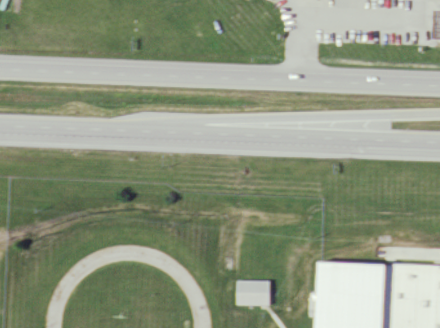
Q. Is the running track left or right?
left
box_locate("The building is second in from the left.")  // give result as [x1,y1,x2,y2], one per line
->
[309,262,386,328]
